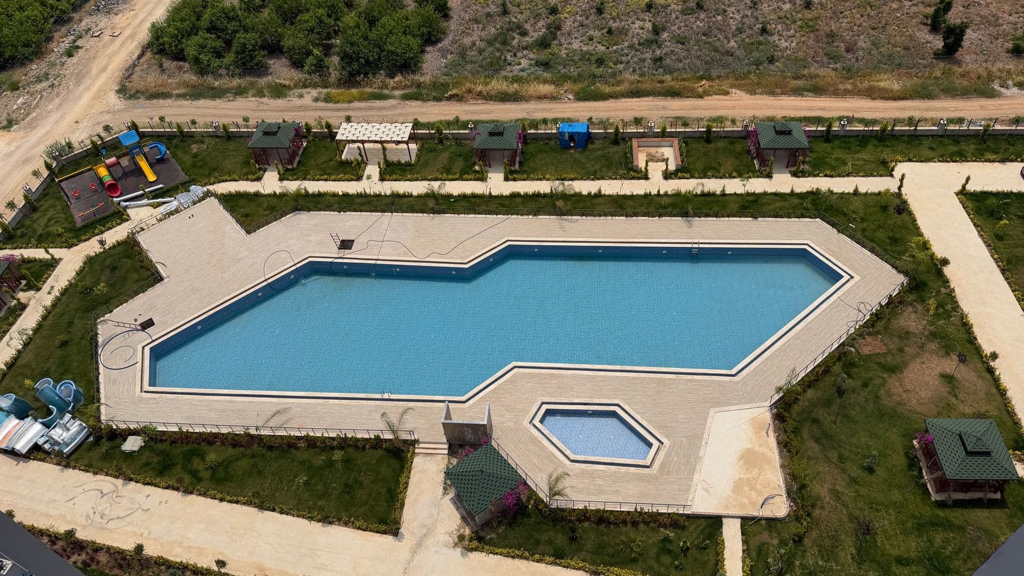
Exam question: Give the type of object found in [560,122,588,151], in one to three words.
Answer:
shed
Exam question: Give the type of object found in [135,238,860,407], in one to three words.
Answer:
swimming pool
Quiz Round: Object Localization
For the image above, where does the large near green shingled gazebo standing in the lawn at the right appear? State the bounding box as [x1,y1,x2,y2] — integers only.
[914,418,1022,497]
